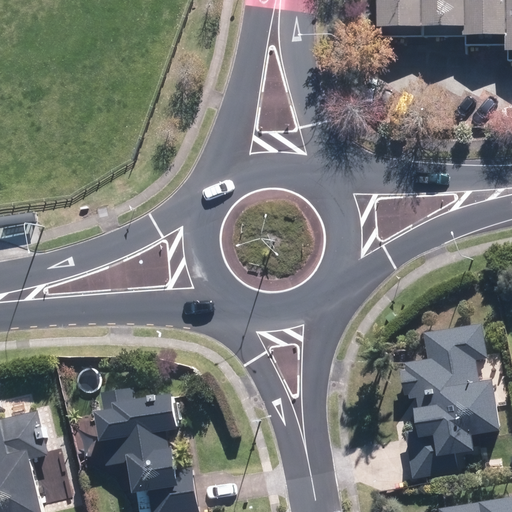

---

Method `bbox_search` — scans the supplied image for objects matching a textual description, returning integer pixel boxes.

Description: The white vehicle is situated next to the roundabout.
[201,179,237,200]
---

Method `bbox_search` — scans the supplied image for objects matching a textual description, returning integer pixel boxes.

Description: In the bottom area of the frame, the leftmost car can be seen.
[183,301,215,317]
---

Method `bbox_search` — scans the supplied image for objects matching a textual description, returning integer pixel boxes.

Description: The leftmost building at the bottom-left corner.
[0,410,49,512]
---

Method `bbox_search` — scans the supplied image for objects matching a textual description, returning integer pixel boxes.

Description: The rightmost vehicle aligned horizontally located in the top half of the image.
[416,170,452,185]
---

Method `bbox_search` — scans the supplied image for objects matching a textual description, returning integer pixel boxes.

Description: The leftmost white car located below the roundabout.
[208,484,239,498]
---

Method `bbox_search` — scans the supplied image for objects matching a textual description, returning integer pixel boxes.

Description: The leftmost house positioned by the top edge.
[376,0,422,38]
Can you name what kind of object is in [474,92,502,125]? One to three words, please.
car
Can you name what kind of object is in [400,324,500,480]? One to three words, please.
house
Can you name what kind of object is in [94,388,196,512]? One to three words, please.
house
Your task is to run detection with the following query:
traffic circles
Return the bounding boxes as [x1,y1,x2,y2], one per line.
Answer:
[220,188,325,292]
